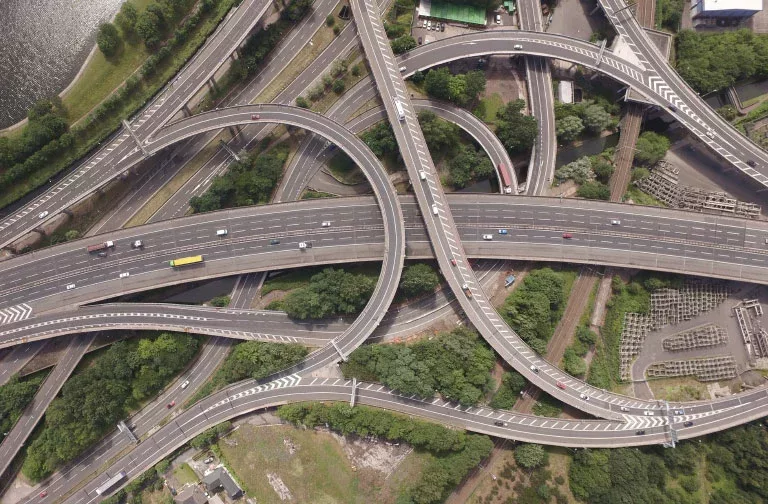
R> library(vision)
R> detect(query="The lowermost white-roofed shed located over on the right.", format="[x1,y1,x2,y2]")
[556,80,573,104]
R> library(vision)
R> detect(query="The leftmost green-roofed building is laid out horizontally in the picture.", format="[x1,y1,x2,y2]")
[418,0,487,30]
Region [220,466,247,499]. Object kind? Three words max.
house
